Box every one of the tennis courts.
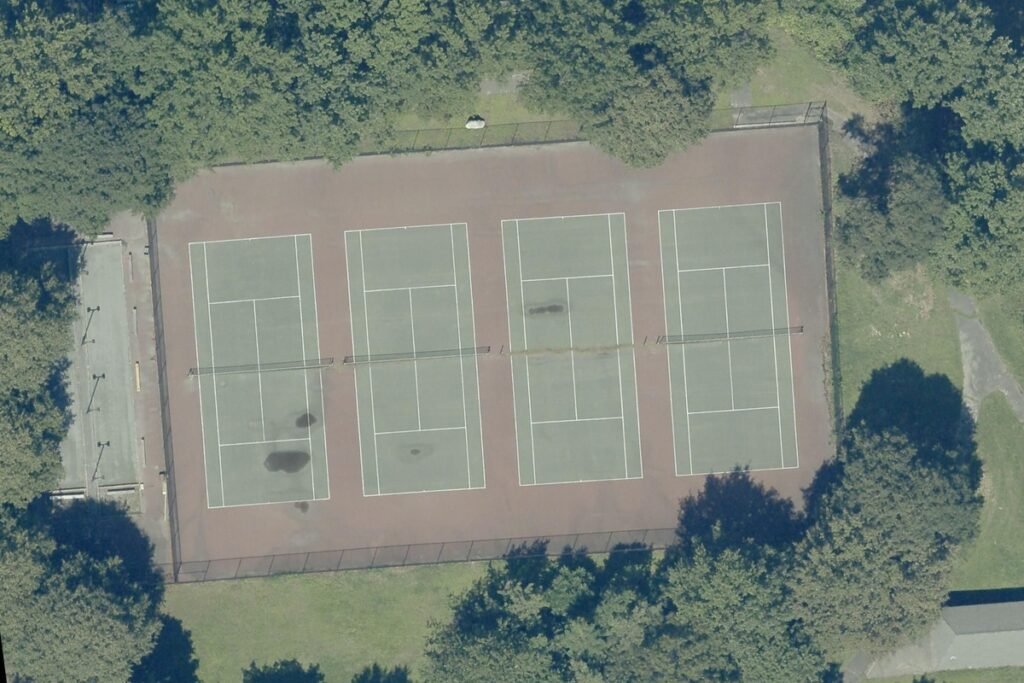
[658,202,798,475]
[502,212,642,485]
[345,223,486,496]
[189,235,329,508]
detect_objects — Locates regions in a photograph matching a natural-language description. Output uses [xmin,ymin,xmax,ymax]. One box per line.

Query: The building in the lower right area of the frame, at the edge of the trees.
[934,602,1024,671]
